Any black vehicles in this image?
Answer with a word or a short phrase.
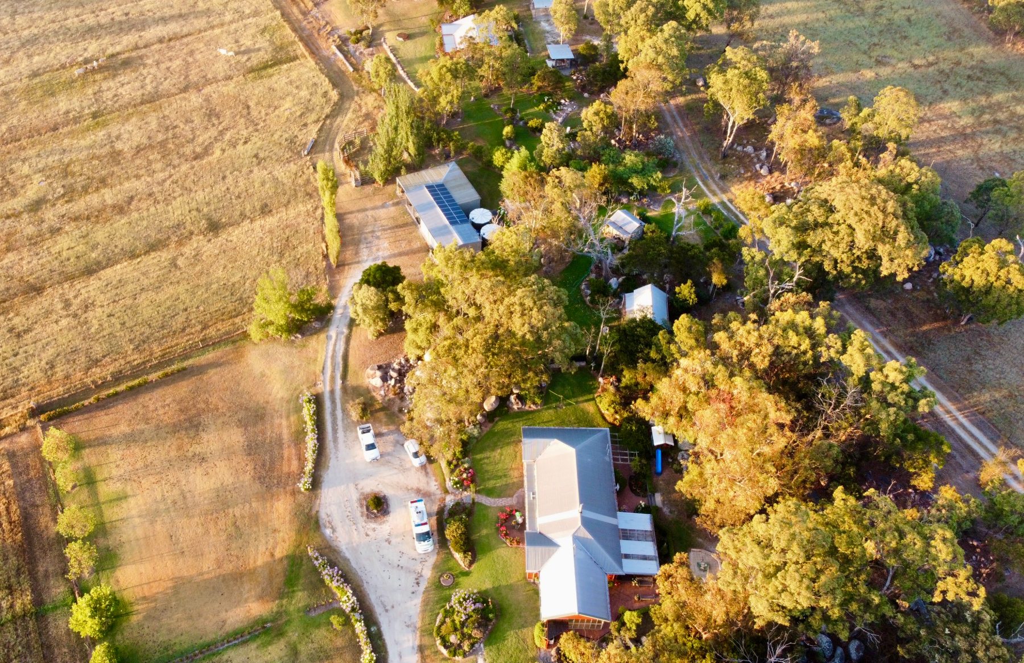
No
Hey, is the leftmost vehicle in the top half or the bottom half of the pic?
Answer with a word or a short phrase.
bottom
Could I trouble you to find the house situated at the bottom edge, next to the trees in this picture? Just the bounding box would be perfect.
[520,427,662,657]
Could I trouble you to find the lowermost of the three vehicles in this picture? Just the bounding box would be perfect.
[410,498,433,554]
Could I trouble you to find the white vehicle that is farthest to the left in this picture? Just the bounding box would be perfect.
[359,424,379,461]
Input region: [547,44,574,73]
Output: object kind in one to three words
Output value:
building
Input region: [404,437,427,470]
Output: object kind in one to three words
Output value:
car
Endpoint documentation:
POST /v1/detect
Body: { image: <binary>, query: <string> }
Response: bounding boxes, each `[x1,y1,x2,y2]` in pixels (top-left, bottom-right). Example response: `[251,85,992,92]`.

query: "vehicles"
[359,424,379,461]
[404,437,427,470]
[410,498,433,554]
